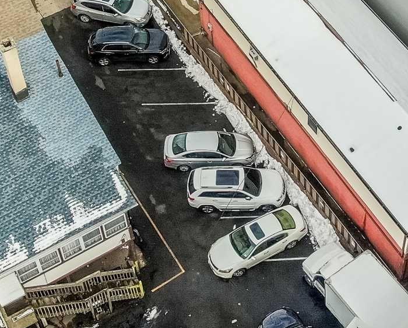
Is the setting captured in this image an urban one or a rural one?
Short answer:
urban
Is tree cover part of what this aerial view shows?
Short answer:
No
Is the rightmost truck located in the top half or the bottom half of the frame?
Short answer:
bottom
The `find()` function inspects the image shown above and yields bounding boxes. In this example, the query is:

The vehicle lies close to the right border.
[296,245,408,328]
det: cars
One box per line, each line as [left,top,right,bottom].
[262,305,315,328]
[68,0,150,26]
[206,204,307,280]
[86,23,169,65]
[188,163,286,214]
[160,125,255,172]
